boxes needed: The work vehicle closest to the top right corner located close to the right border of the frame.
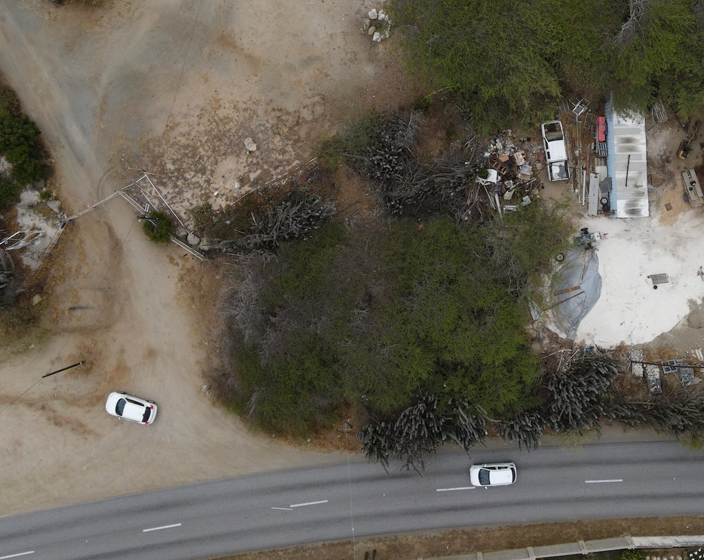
[671,127,698,163]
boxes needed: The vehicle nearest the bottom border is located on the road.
[470,461,518,488]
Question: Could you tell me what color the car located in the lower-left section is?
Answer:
white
